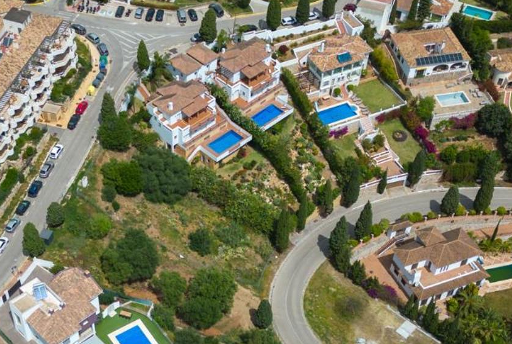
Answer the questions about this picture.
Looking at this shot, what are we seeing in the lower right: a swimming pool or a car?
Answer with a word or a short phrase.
swimming pool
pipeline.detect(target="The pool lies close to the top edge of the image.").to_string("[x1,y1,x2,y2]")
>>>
[460,4,497,21]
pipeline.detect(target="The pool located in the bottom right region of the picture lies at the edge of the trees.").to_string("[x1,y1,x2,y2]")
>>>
[481,262,512,287]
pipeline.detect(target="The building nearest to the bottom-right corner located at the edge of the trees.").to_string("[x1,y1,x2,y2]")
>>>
[392,225,491,304]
